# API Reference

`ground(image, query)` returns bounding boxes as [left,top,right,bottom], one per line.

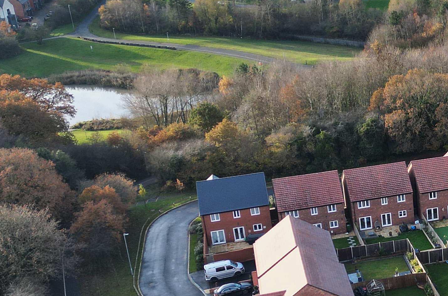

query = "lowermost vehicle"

[212,280,254,296]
